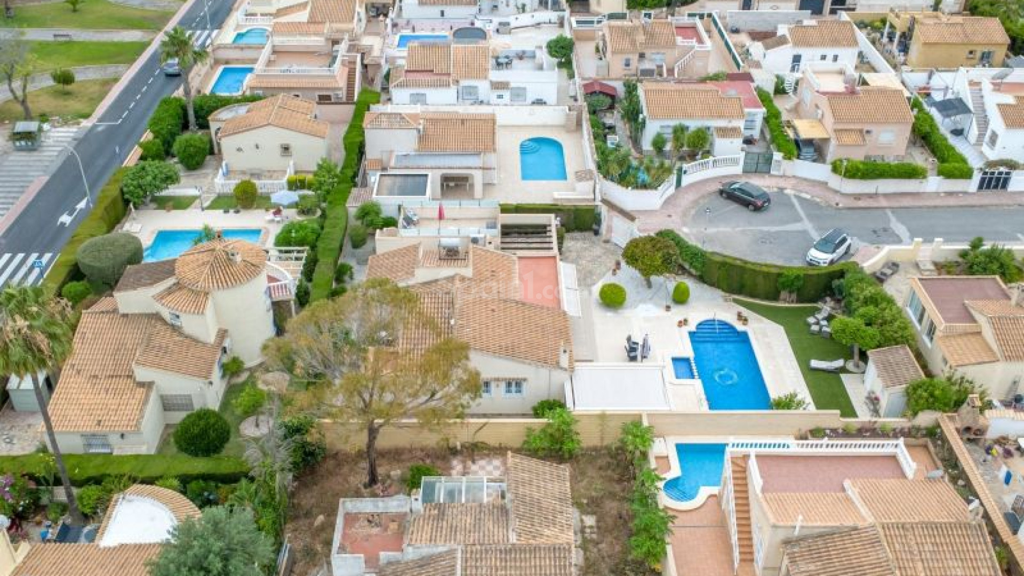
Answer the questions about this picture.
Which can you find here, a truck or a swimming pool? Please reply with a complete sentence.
I can see a swimming pool in this picture.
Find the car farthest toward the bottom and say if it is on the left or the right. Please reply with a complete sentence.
The car farthest toward the bottom is on the right side of the image.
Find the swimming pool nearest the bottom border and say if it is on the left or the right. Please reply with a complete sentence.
The swimming pool nearest the bottom border is on the right side of the image.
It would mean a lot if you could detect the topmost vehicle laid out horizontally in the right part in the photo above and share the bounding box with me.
[719,181,775,210]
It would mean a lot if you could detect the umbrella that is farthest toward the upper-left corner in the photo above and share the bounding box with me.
[265,187,298,215]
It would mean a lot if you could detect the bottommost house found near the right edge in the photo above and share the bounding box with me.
[720,435,1004,576]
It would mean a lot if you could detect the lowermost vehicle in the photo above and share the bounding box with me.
[808,226,855,264]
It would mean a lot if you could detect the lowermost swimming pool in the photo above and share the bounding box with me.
[651,430,742,535]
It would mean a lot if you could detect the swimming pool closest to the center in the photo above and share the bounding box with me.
[520,136,568,179]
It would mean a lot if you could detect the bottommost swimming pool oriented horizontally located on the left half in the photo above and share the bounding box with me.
[145,228,263,258]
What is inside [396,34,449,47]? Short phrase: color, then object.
blue swimming pool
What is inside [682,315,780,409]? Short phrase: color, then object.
blue swimming pool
